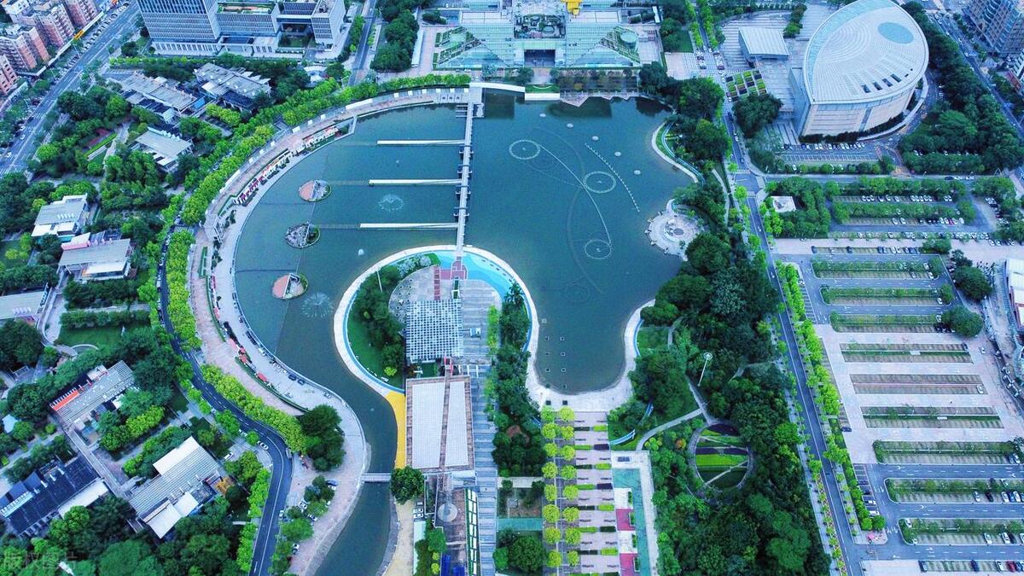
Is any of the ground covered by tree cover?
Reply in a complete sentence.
Yes, the picture does contain tree cover.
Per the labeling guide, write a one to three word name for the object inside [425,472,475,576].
building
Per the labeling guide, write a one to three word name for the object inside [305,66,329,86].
shed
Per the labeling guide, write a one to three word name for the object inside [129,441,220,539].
building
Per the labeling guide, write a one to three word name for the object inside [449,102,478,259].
bridge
